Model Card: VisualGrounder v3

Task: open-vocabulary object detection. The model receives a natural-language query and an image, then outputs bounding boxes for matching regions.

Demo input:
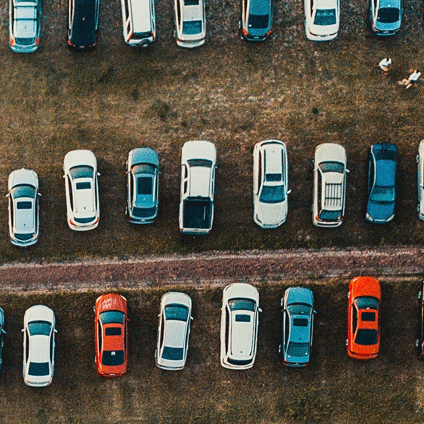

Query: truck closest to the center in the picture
[177,140,223,236]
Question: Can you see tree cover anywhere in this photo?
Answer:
No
